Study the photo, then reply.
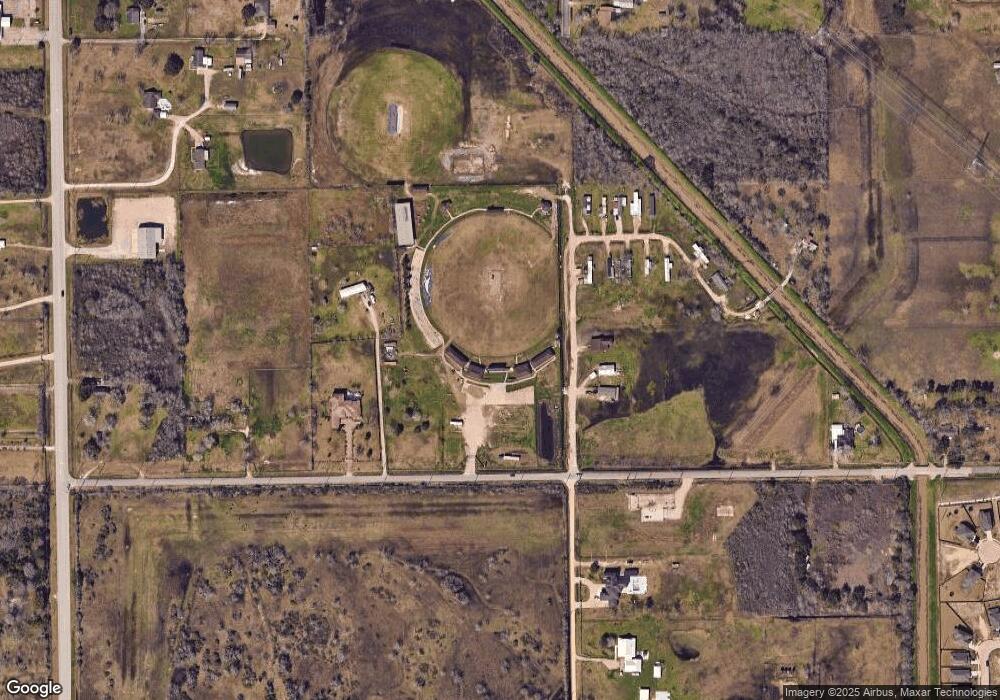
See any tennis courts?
No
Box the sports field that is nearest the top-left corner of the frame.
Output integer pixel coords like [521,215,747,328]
[329,48,462,186]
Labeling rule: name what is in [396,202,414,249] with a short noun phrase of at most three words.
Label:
building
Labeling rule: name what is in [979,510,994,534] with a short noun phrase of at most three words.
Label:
house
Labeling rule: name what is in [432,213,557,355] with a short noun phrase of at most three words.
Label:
sports field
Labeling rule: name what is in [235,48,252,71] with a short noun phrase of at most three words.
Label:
house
